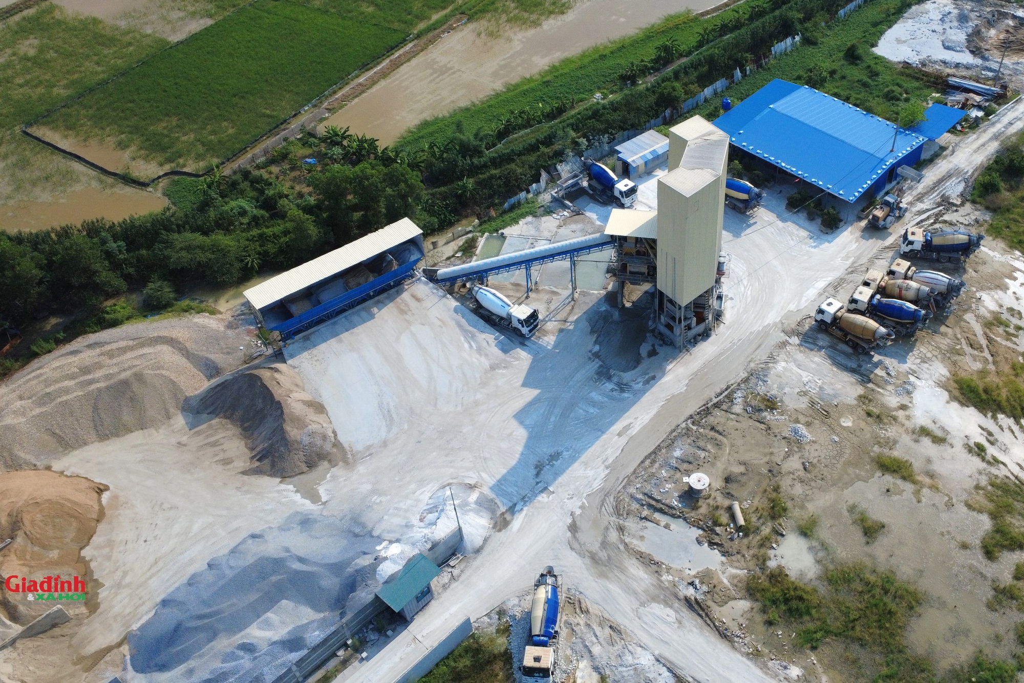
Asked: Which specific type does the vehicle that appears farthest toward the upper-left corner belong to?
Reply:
truck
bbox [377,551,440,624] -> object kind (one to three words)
shed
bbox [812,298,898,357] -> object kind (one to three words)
truck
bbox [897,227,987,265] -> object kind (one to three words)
truck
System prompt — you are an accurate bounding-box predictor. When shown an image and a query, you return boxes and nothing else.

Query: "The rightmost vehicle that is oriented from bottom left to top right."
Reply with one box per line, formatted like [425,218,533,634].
[863,171,927,233]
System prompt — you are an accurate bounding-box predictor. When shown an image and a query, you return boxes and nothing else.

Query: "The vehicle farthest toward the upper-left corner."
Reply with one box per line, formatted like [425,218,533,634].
[464,282,539,340]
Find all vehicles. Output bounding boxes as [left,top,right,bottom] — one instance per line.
[882,255,969,308]
[517,566,563,683]
[897,227,987,265]
[725,181,768,213]
[852,266,942,313]
[464,282,539,340]
[579,157,642,209]
[844,284,933,339]
[863,171,927,233]
[812,298,898,357]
